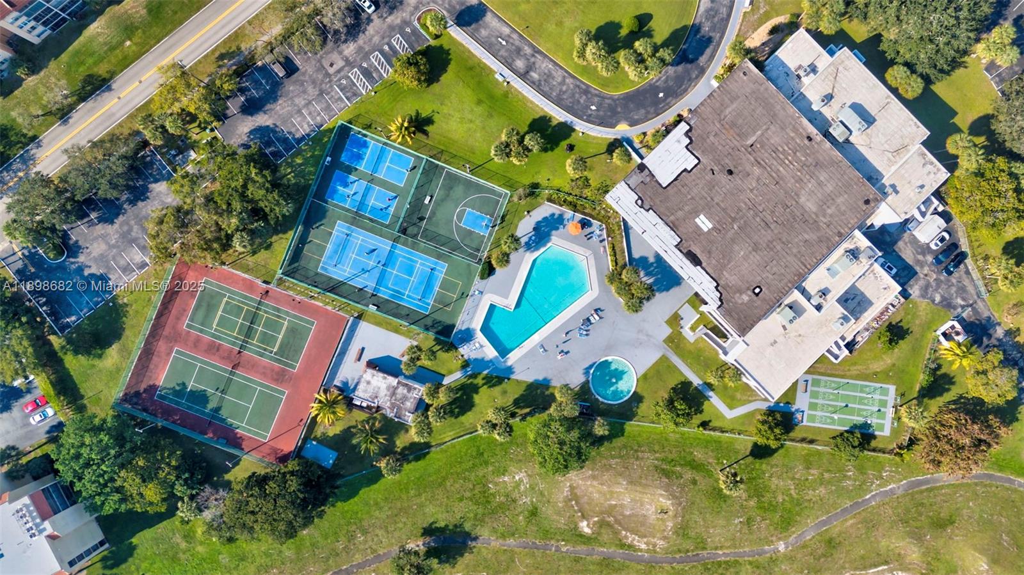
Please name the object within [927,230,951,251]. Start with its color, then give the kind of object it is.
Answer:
white car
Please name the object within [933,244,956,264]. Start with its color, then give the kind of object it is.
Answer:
blue car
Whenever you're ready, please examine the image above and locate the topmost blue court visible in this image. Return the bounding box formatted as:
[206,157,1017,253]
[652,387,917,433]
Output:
[329,124,422,191]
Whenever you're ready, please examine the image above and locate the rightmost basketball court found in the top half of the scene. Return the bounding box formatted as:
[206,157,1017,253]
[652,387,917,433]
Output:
[398,159,509,264]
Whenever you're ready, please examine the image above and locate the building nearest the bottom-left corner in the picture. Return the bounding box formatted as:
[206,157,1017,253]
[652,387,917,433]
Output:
[0,474,115,575]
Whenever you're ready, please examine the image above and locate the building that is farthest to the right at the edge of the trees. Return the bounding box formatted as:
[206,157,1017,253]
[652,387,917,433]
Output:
[604,28,952,401]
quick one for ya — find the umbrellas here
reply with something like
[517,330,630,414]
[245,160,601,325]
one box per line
[567,221,580,234]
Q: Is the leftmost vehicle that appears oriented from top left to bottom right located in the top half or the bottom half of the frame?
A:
top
